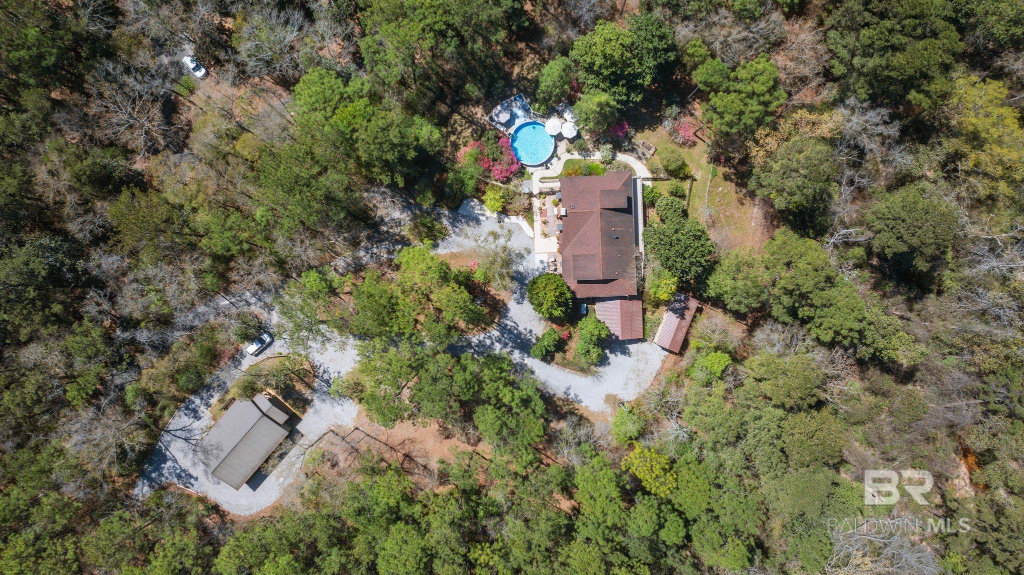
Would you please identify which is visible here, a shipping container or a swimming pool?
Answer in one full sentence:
Looking from above, you can make out a swimming pool.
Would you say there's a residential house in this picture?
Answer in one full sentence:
Yes, the photo shows a residential house.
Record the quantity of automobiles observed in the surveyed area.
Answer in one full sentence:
The count of automobiles comes to 2.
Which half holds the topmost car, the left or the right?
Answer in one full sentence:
The topmost car appears in the left half of the scene.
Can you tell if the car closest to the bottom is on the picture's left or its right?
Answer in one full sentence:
The car closest to the bottom sits on the left side.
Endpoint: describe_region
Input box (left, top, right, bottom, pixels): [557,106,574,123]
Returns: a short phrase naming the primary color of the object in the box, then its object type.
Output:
white umbrella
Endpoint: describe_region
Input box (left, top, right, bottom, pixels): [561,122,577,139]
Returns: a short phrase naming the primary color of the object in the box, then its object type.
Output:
white umbrella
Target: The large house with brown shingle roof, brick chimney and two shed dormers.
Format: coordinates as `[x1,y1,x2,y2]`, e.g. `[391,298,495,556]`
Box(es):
[555,171,637,298]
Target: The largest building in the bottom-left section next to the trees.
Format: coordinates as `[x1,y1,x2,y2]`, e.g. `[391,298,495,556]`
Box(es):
[193,393,291,491]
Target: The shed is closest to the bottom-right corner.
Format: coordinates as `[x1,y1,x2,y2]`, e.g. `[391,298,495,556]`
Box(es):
[653,292,698,353]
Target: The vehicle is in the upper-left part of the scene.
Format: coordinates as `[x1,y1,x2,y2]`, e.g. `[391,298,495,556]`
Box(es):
[182,55,207,79]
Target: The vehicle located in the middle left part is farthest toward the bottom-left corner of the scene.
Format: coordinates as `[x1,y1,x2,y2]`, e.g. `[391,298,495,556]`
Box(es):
[246,333,273,356]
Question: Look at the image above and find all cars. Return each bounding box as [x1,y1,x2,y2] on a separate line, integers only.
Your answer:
[182,55,207,79]
[246,333,273,356]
